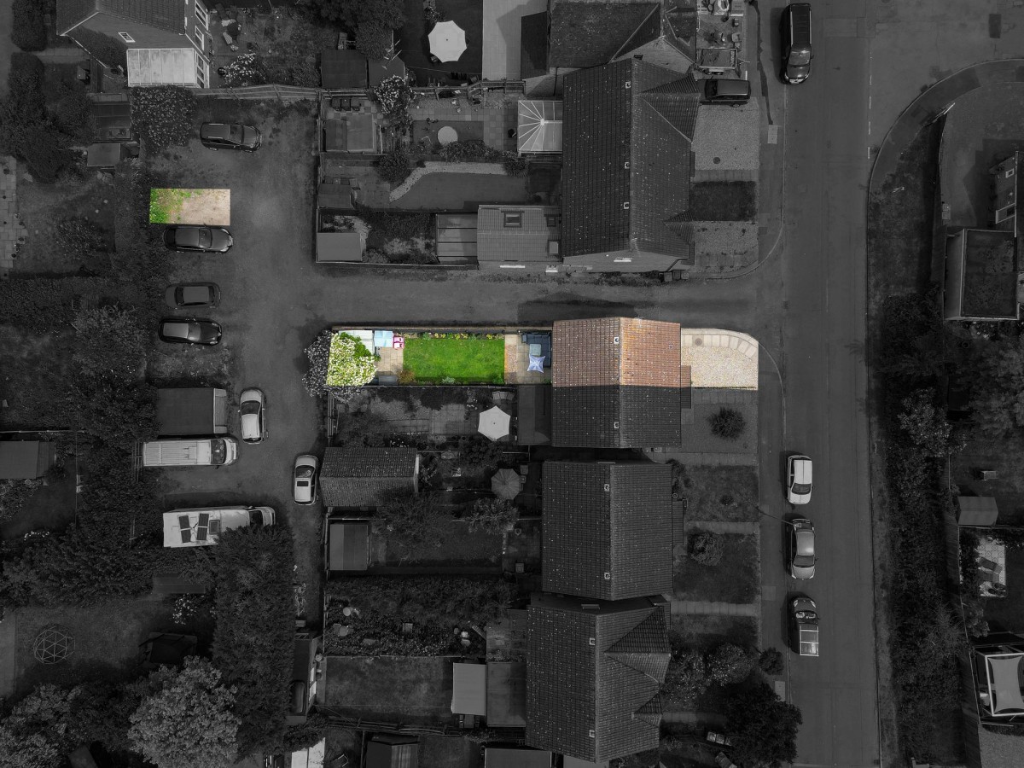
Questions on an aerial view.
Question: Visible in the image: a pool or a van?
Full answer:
I can see a van in this picture.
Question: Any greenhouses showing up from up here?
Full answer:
Yes, a greenhouse appears in the view.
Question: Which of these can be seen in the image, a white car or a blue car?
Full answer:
Visible in the photo is a white car.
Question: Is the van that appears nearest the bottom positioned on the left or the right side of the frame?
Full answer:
The van that appears nearest the bottom sits on the right side.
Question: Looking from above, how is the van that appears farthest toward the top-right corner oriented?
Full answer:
What the image shows is the van that appears farthest toward the top-right corner lying vertically.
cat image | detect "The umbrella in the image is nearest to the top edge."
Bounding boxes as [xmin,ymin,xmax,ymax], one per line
[429,25,467,63]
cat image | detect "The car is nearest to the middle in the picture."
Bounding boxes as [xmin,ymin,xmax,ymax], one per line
[291,454,319,504]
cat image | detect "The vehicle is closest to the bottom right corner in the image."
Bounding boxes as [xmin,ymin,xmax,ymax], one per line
[787,594,819,657]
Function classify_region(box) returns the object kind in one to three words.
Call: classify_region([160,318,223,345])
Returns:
car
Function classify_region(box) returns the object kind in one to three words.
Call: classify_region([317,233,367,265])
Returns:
shed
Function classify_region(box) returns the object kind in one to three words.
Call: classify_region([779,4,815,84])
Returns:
van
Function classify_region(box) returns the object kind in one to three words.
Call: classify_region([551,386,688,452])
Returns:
house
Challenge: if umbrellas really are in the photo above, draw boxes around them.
[429,25,467,63]
[491,468,521,499]
[478,404,511,440]
[527,354,545,372]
